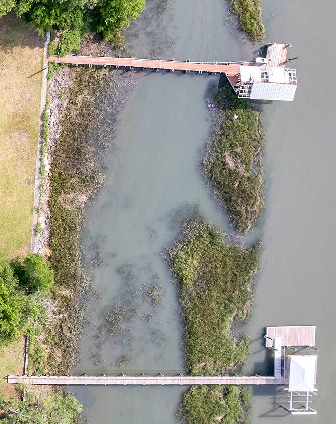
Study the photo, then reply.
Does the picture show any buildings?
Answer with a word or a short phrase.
Yes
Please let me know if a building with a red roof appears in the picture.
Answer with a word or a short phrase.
No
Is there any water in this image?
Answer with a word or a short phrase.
Yes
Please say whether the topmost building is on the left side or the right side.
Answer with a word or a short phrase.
right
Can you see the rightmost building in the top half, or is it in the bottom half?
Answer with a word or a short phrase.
bottom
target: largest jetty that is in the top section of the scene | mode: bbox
[48,55,288,95]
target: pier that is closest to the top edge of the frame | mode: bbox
[265,43,288,70]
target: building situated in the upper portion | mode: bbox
[225,66,298,103]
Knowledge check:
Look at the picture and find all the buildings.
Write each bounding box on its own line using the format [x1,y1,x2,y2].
[225,66,298,103]
[288,355,326,395]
